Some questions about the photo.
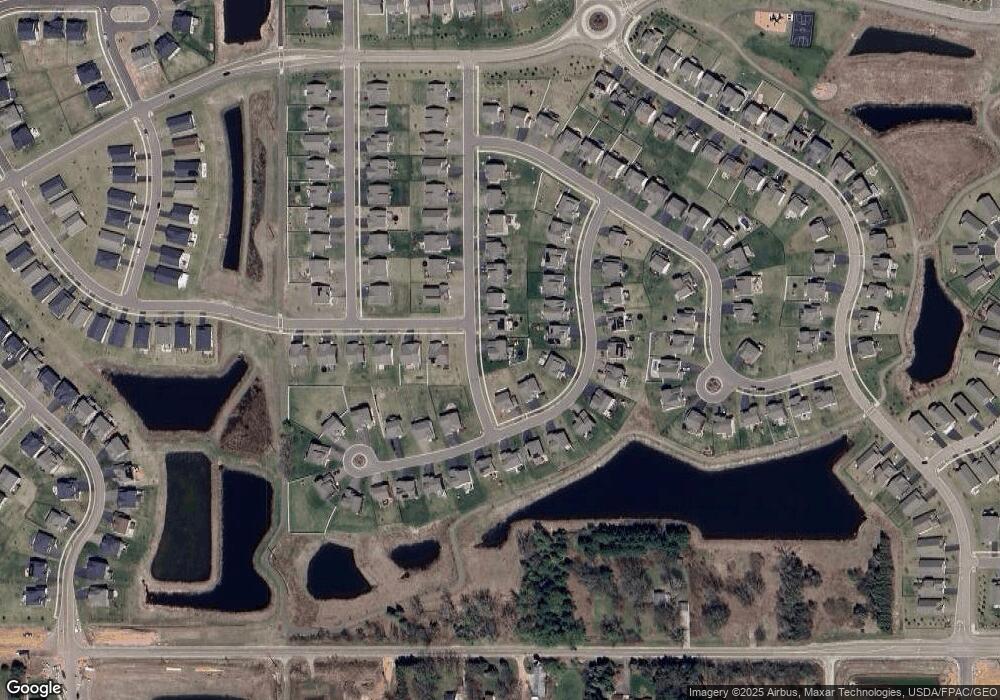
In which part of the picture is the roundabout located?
top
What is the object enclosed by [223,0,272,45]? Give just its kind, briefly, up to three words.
pond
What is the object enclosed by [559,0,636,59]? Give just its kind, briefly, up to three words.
roundabout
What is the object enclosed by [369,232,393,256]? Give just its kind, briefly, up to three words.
house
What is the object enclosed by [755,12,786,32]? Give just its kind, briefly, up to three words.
playground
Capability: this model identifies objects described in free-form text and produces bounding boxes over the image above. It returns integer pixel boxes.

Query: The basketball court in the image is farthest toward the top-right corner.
[791,12,815,47]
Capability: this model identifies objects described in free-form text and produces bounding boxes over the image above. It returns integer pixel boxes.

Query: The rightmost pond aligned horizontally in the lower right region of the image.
[849,671,944,700]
